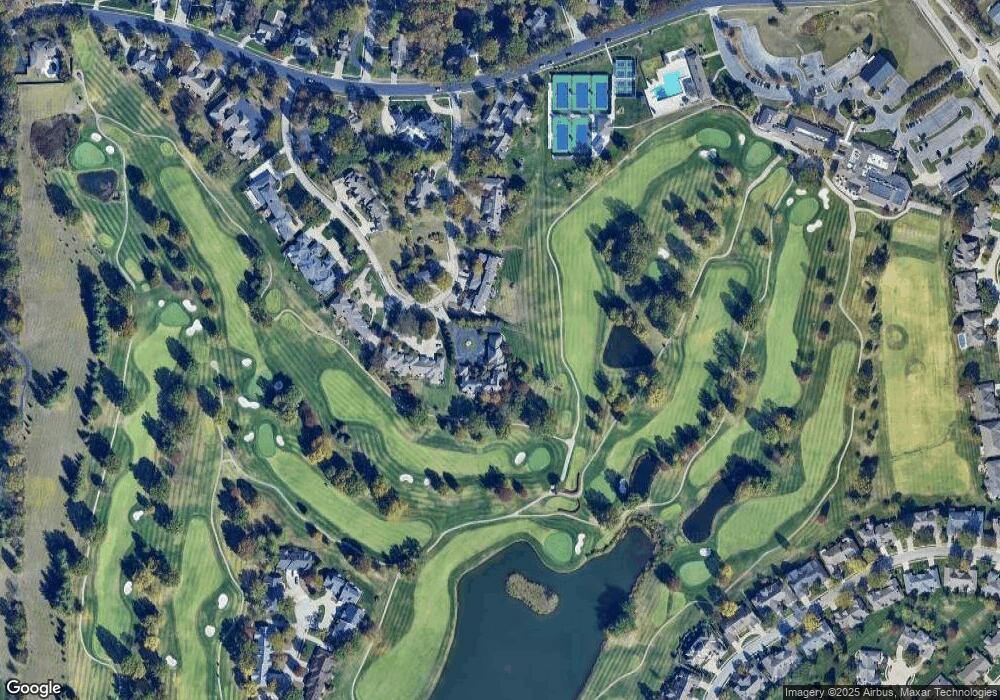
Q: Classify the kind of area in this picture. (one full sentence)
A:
This image shows a golf course.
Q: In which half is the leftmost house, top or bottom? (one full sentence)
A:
The leftmost house sits in the top half of the picture.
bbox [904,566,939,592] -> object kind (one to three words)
house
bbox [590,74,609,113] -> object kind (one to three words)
tennis court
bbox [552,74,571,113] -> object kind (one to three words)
tennis court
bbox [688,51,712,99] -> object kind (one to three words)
building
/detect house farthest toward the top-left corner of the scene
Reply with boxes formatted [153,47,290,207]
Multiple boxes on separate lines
[8,42,57,72]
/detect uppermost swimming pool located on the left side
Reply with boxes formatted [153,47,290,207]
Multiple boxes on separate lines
[45,60,60,77]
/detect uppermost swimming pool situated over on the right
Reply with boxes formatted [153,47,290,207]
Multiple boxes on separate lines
[646,49,700,116]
